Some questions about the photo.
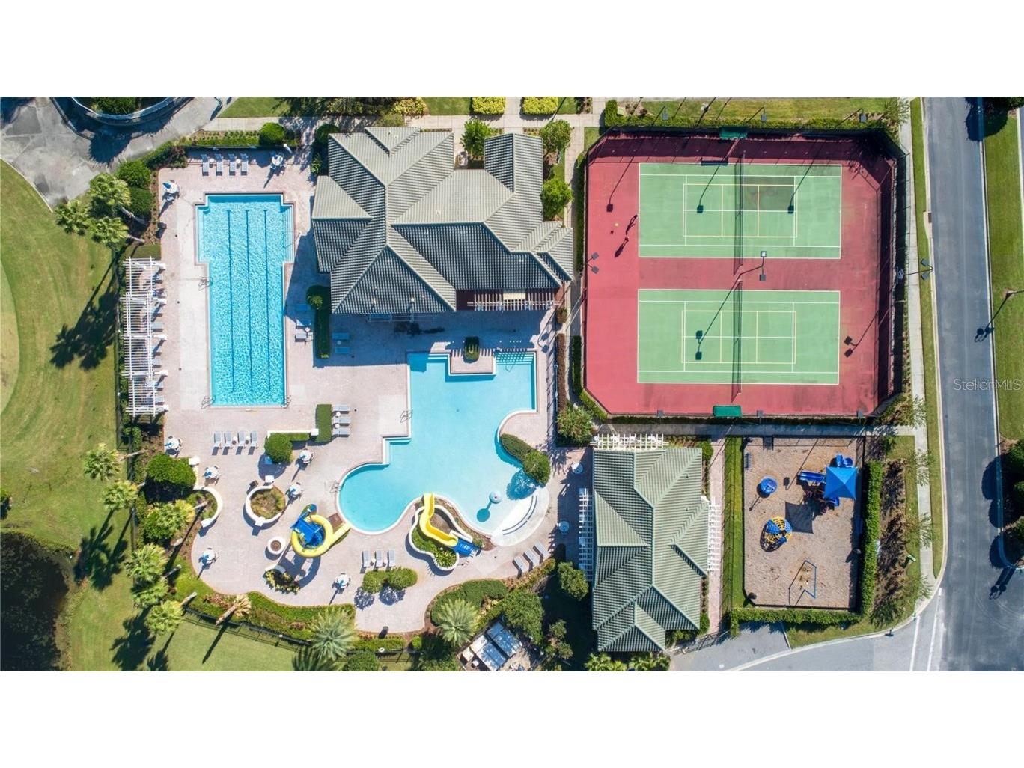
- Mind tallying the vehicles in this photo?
0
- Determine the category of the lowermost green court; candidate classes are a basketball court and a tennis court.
tennis court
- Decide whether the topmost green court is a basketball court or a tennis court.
tennis court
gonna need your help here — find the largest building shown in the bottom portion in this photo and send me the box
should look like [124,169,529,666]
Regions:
[593,446,710,652]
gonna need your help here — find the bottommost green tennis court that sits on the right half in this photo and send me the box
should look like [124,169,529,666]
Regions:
[637,289,840,385]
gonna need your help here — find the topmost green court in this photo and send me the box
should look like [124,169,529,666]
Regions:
[639,163,842,259]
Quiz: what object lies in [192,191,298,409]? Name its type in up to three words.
swimming pool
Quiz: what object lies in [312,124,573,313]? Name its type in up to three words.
building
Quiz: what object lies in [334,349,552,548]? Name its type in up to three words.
swimming pool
